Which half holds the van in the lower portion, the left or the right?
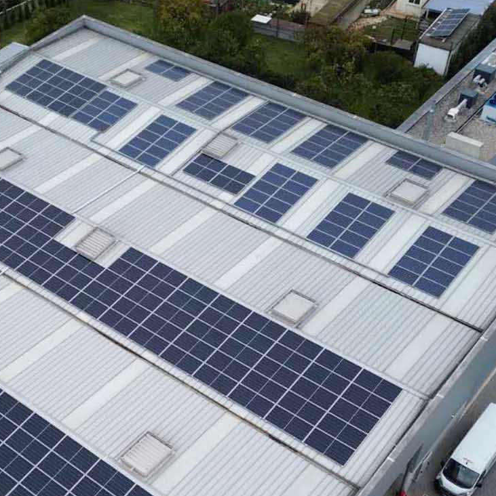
right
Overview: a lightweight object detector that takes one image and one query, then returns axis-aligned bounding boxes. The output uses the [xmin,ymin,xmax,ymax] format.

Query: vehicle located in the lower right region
[435,403,496,496]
